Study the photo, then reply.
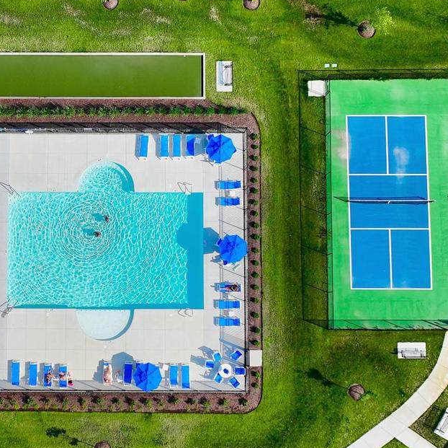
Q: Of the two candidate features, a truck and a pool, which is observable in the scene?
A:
pool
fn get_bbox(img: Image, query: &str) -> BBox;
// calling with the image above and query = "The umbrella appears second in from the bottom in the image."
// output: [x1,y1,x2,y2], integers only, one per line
[215,233,246,265]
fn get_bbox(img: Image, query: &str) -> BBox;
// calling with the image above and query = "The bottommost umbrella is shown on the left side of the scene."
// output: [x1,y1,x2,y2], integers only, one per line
[133,362,162,391]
